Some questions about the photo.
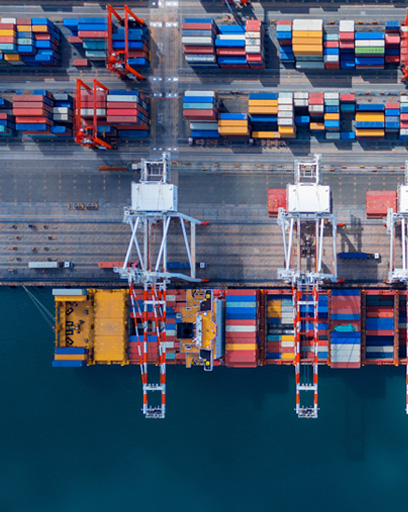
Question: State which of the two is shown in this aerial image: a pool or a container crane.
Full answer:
Looking from above, you can make out a container crane.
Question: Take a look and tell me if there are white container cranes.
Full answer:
Yes, the photo shows a white container crane.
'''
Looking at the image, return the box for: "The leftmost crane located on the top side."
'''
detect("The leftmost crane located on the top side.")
[74,78,118,152]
